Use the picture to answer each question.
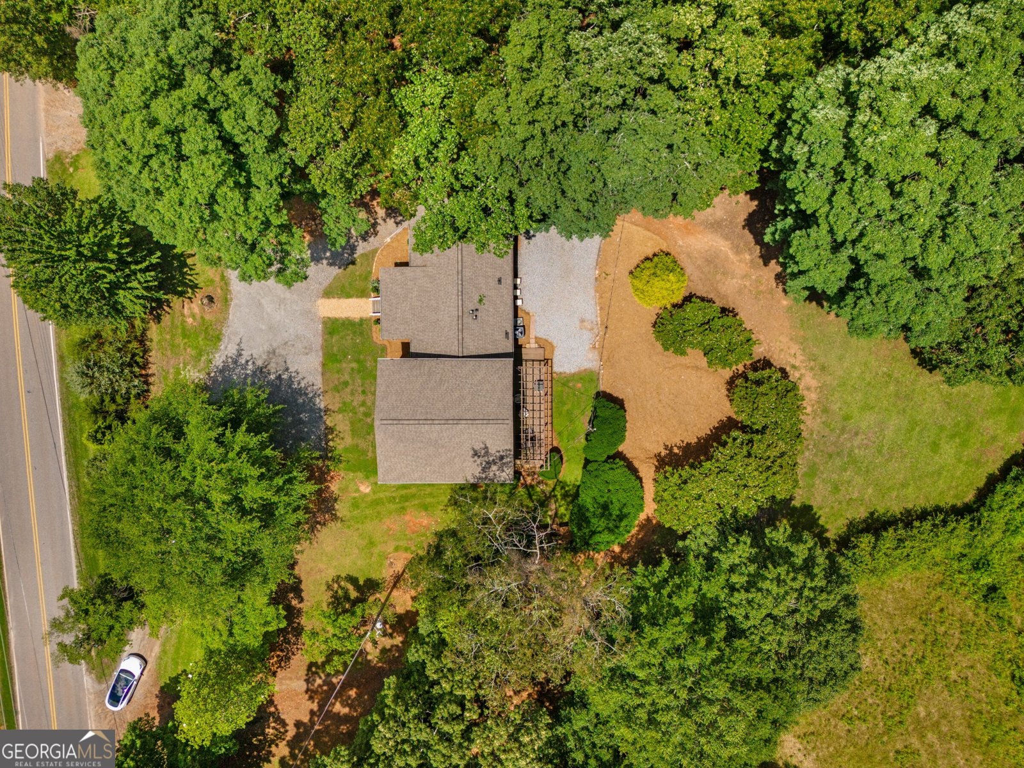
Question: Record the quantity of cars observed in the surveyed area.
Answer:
1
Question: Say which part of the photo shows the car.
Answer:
bottom left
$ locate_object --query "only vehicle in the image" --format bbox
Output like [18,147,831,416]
[107,650,149,707]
